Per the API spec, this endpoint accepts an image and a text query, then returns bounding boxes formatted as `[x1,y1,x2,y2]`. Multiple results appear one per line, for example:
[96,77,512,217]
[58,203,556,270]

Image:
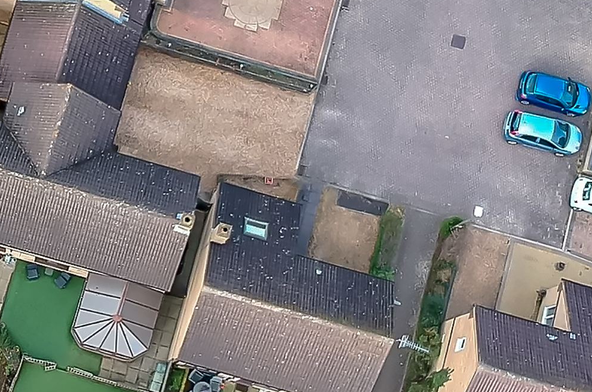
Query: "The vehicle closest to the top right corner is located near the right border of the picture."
[513,71,592,118]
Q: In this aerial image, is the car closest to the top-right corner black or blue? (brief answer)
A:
blue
